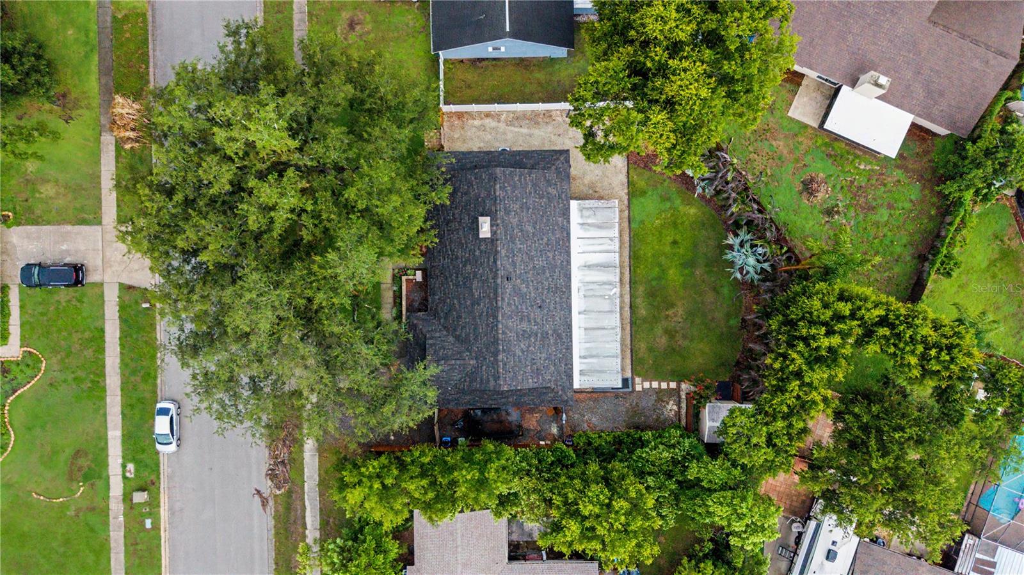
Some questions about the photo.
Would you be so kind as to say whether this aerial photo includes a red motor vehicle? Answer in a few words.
No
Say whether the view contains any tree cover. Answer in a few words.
Yes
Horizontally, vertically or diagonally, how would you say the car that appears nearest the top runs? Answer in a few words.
horizontally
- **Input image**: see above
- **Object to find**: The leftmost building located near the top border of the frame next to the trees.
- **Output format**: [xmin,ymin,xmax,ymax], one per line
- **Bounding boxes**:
[431,0,575,61]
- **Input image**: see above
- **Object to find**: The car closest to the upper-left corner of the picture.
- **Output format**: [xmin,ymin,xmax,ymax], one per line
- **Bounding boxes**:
[20,261,83,289]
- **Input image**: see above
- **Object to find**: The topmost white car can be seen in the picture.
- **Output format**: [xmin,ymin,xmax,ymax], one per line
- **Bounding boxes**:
[153,399,182,453]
